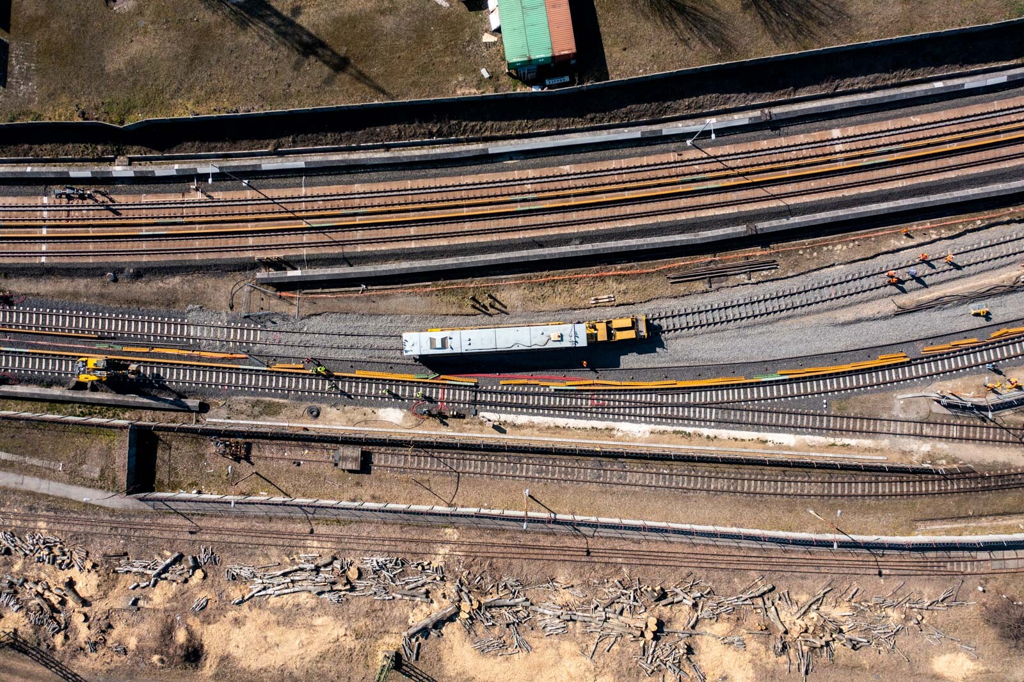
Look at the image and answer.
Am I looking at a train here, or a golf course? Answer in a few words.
train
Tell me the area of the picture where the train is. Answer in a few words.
center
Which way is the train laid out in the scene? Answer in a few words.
from left to right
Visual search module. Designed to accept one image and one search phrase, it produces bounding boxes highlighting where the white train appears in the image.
[403,314,650,355]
